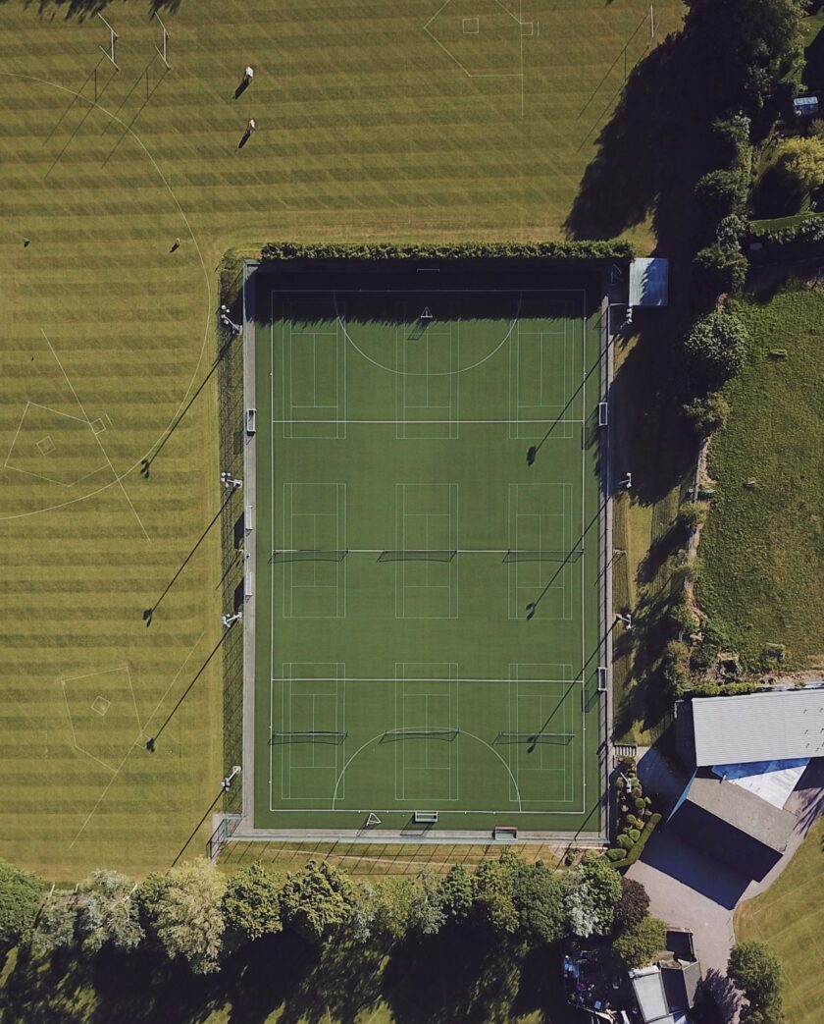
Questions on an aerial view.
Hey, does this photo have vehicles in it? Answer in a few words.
No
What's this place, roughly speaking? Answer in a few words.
sports ground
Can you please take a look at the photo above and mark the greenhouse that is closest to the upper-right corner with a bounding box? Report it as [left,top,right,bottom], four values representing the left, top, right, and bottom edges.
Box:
[792,92,822,114]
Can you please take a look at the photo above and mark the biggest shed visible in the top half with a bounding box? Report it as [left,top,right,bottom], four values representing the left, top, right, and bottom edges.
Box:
[627,259,668,308]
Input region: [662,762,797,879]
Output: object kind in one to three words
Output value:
building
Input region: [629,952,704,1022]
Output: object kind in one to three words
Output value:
house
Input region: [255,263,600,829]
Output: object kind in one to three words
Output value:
sports field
